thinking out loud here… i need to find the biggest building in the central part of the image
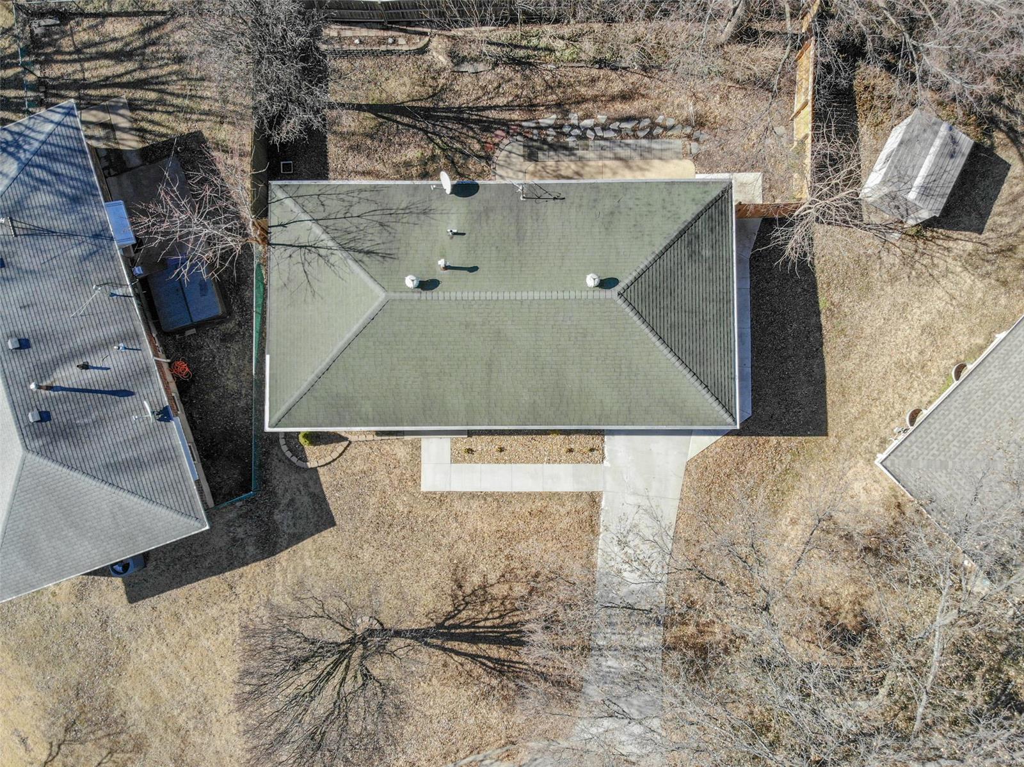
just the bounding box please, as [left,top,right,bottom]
[263,177,741,433]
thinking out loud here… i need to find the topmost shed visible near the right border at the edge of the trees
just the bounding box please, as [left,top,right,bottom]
[861,104,976,219]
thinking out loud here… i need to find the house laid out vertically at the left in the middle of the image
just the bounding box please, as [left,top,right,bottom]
[0,99,221,603]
